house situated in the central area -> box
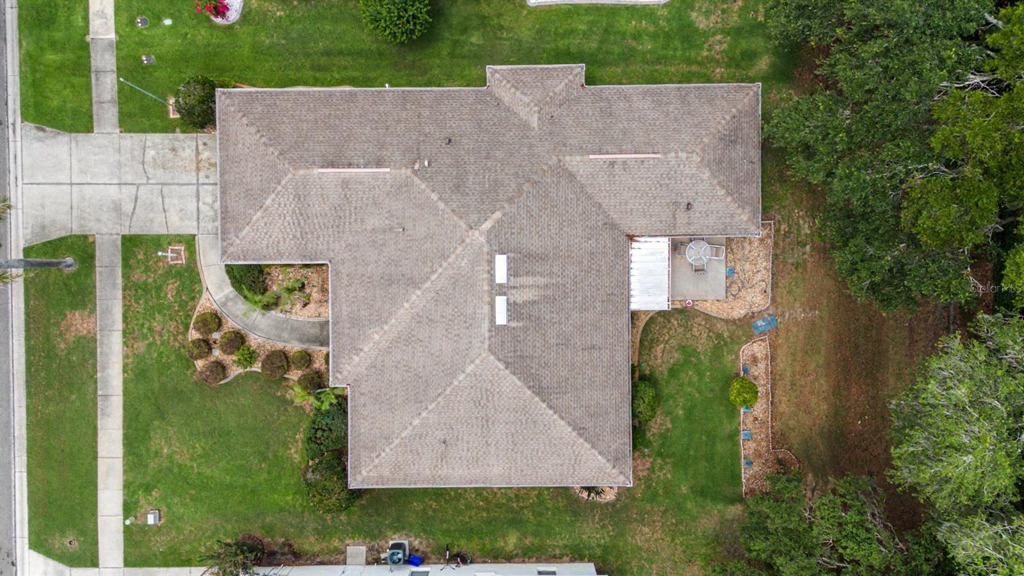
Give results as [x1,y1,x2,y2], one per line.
[216,64,763,490]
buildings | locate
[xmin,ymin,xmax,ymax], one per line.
[211,562,596,576]
[216,64,763,490]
